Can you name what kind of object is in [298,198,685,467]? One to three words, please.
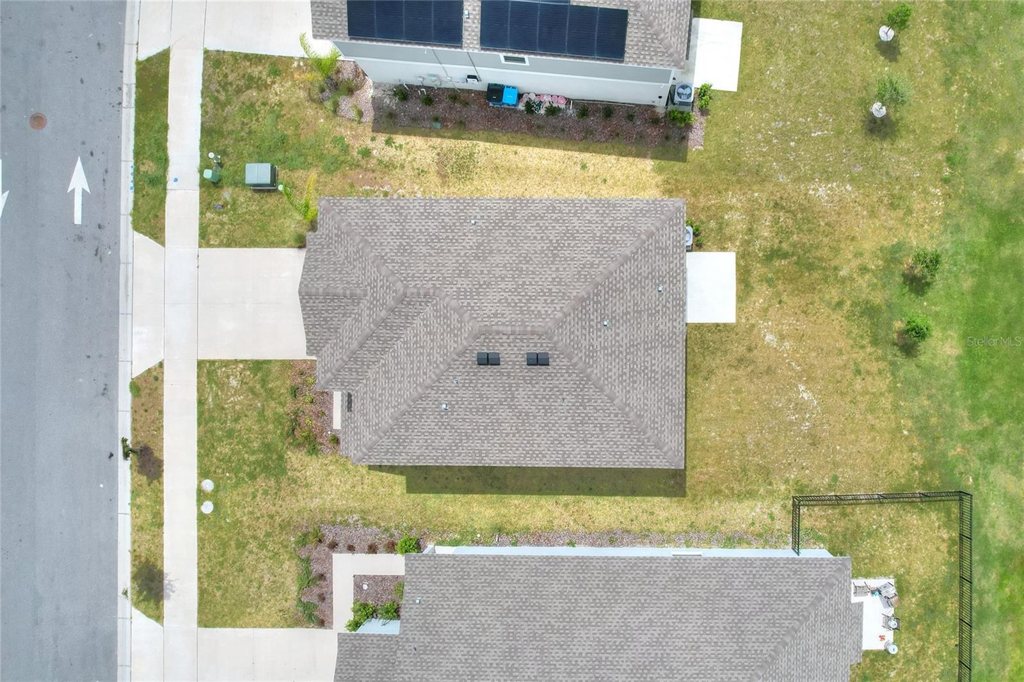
house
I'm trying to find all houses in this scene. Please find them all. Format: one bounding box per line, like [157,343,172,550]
[333,545,861,682]
[298,198,685,467]
[311,0,691,106]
